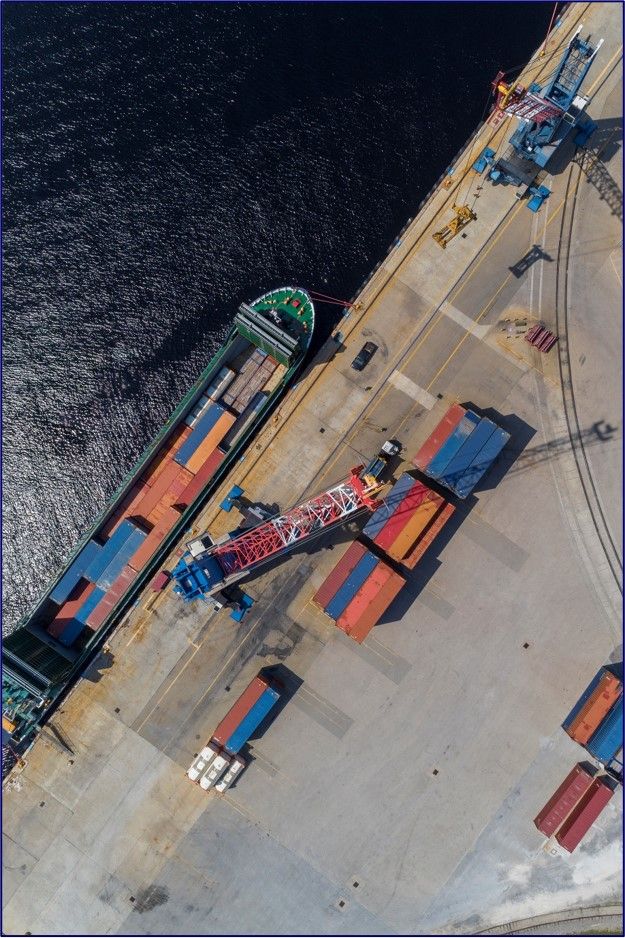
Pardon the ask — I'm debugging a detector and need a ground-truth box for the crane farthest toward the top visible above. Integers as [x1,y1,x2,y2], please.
[472,14,616,211]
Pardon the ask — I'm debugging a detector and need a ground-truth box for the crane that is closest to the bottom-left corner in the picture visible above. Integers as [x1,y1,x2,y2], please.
[171,464,390,618]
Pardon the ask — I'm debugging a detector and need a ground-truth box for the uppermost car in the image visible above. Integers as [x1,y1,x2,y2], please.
[352,343,376,371]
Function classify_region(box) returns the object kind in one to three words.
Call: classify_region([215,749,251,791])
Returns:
truck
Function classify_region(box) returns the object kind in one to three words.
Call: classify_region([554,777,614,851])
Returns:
shipping container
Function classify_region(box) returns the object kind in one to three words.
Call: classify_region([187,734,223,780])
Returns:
truck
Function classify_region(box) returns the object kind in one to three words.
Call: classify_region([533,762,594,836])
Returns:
shipping container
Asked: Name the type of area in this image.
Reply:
port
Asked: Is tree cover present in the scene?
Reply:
No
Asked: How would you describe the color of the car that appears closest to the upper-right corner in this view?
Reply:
black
